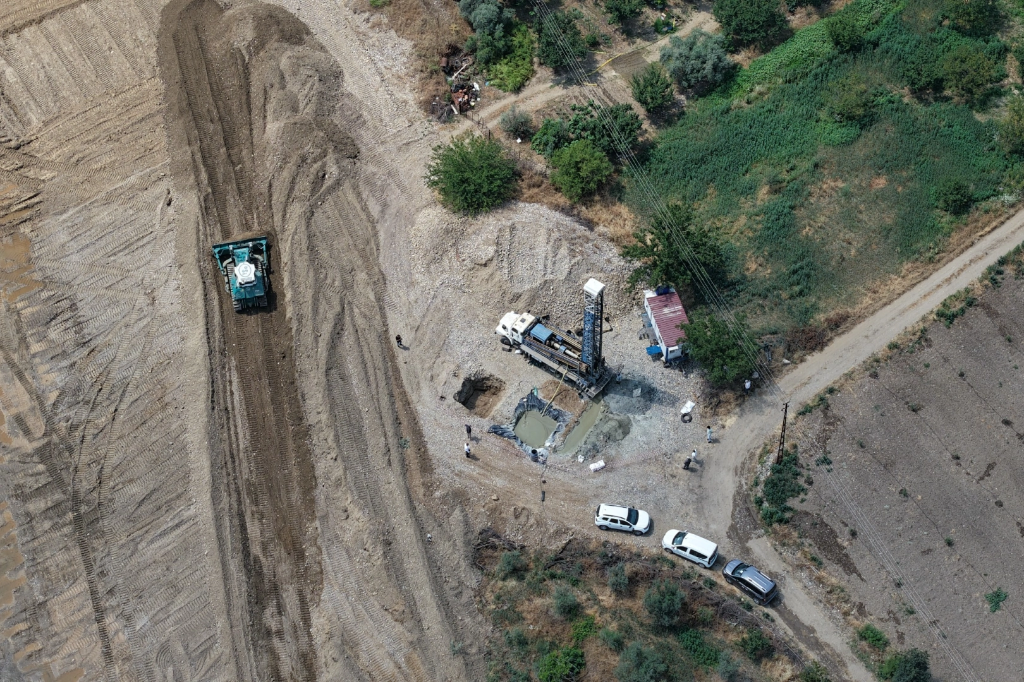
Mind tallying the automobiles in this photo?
3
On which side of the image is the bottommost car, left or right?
right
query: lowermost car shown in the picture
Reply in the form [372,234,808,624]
[721,560,780,609]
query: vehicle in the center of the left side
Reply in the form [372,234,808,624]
[214,235,274,311]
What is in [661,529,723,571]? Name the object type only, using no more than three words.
car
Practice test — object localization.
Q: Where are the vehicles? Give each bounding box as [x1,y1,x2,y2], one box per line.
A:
[594,502,655,538]
[492,280,627,400]
[721,560,780,609]
[661,529,723,571]
[214,235,274,311]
